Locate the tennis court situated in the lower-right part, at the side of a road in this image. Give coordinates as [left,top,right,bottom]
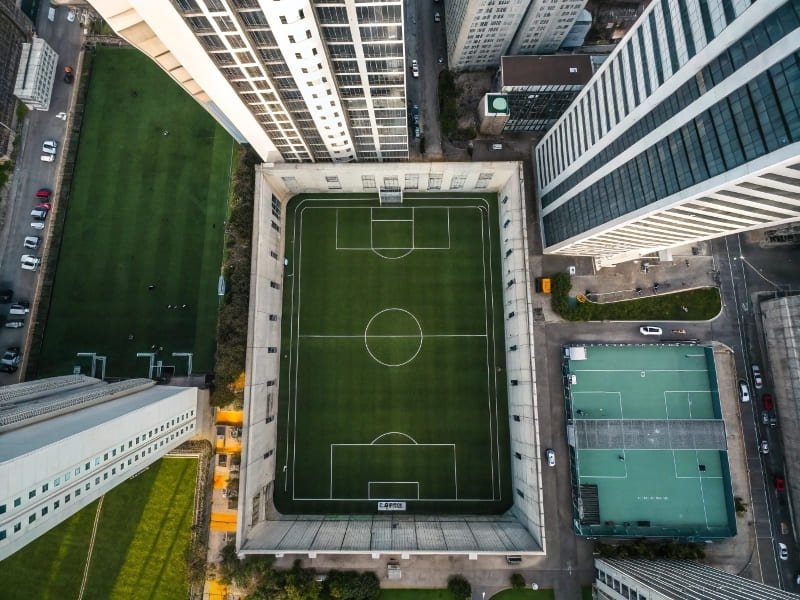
[563,347,728,527]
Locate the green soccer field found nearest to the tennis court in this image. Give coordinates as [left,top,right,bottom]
[276,192,512,509]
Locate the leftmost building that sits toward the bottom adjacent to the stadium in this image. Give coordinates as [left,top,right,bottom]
[0,373,198,554]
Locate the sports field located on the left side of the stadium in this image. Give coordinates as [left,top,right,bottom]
[29,46,236,380]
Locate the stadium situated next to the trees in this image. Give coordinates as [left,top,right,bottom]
[236,160,547,561]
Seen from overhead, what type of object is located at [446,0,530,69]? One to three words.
building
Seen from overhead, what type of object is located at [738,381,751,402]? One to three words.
vehicle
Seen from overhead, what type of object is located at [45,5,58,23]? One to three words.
vehicle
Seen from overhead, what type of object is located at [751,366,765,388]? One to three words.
car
